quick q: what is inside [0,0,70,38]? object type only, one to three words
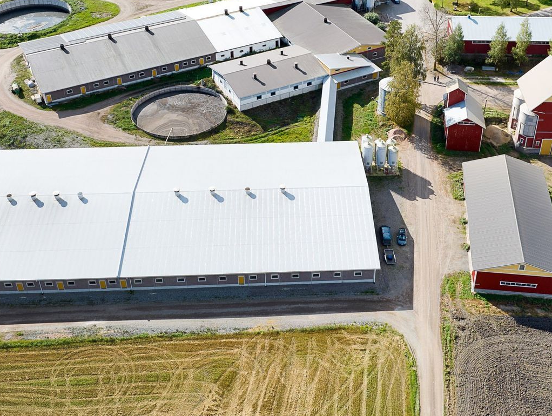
storage tank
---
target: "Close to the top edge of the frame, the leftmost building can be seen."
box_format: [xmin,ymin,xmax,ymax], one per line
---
[21,9,219,105]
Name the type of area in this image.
industrial area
